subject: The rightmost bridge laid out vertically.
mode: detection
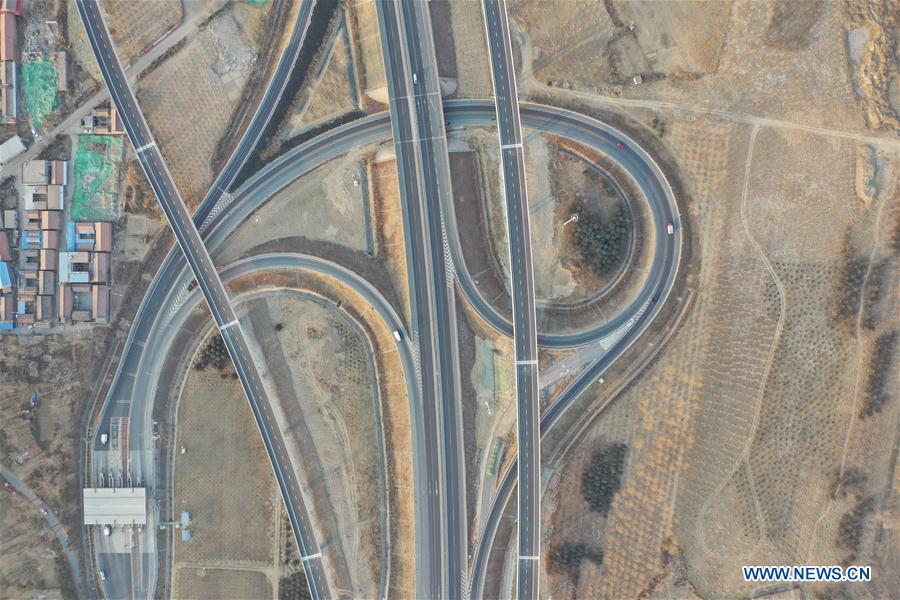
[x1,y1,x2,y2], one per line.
[482,0,541,600]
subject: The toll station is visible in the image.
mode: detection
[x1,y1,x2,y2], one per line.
[83,469,147,532]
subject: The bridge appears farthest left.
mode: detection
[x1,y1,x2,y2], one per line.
[74,0,334,600]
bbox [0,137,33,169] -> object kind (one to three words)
building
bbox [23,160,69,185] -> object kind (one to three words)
house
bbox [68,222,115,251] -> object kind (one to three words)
house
